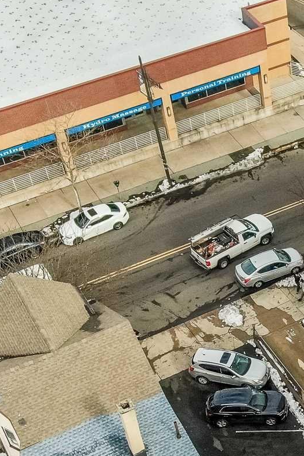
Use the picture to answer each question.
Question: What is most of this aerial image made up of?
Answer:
buildings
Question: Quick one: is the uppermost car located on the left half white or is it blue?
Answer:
white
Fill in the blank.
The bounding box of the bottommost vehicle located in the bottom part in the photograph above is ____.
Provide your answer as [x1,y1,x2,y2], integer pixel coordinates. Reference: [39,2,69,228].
[204,385,287,427]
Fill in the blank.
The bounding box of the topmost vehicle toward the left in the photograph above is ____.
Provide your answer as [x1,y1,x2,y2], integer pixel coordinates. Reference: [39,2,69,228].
[56,204,131,247]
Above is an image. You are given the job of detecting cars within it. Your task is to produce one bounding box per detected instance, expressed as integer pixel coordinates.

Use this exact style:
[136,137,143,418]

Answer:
[56,204,131,247]
[0,232,44,269]
[204,385,287,427]
[231,248,304,291]
[186,346,268,388]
